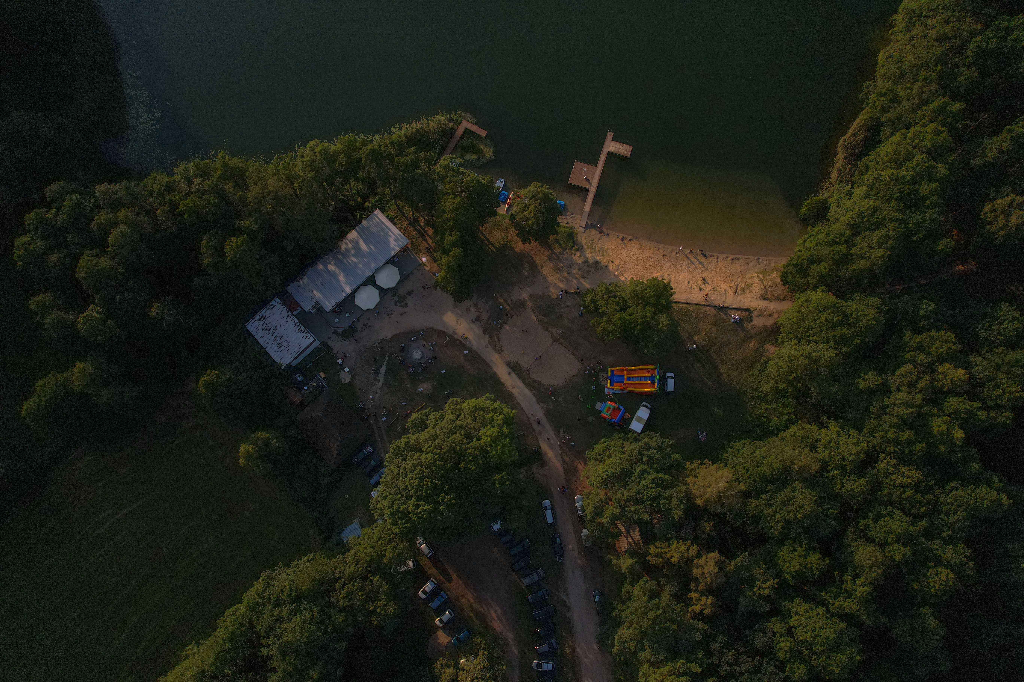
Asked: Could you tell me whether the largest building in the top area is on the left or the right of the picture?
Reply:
left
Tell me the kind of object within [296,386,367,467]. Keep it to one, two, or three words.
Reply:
house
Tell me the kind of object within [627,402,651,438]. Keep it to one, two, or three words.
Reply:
truck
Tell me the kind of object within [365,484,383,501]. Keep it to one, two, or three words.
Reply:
car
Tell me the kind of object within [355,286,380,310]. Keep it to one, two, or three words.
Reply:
umbrella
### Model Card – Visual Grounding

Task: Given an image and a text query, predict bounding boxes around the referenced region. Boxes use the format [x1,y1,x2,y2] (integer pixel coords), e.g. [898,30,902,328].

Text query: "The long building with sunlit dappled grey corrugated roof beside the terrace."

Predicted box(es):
[286,209,410,317]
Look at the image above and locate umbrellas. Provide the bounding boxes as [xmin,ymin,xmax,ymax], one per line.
[375,264,400,288]
[355,286,380,310]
